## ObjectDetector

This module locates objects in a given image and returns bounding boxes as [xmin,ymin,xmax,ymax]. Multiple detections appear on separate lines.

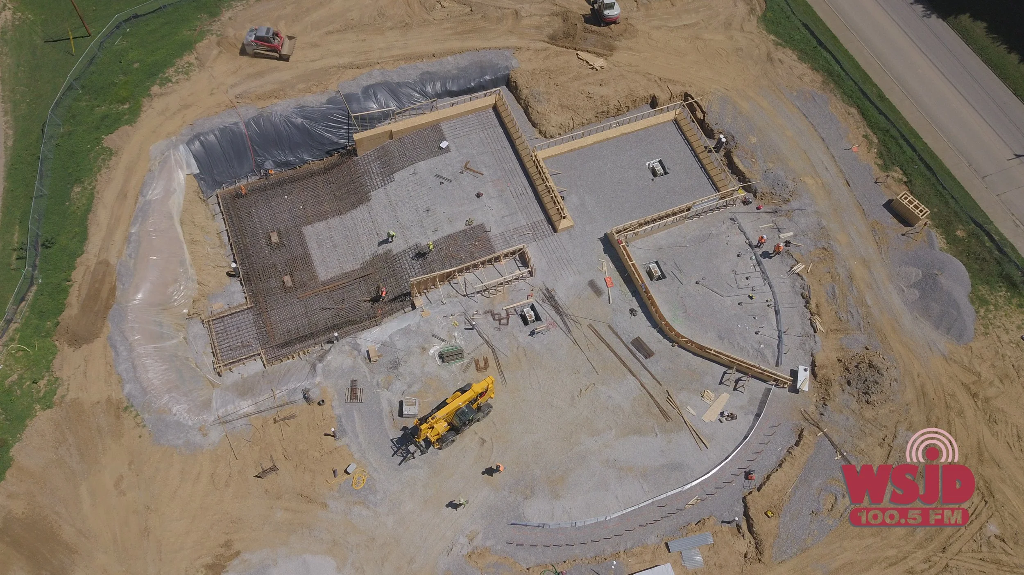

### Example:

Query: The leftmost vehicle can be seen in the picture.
[244,26,304,67]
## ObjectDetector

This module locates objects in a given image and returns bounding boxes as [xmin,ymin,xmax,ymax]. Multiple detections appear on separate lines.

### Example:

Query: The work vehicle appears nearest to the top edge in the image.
[597,0,623,27]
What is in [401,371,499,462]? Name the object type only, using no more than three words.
work vehicle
